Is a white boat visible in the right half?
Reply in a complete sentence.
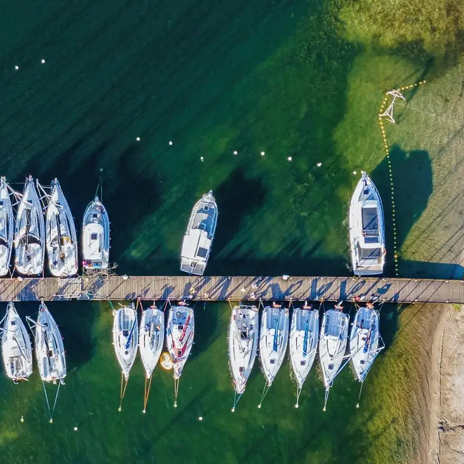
Yes, a white boat shows up in the right half.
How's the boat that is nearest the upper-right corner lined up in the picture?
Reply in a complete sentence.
In this picture, the boat that is nearest the upper-right corner is oriented vertically.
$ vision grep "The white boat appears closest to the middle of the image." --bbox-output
[180,189,220,275]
